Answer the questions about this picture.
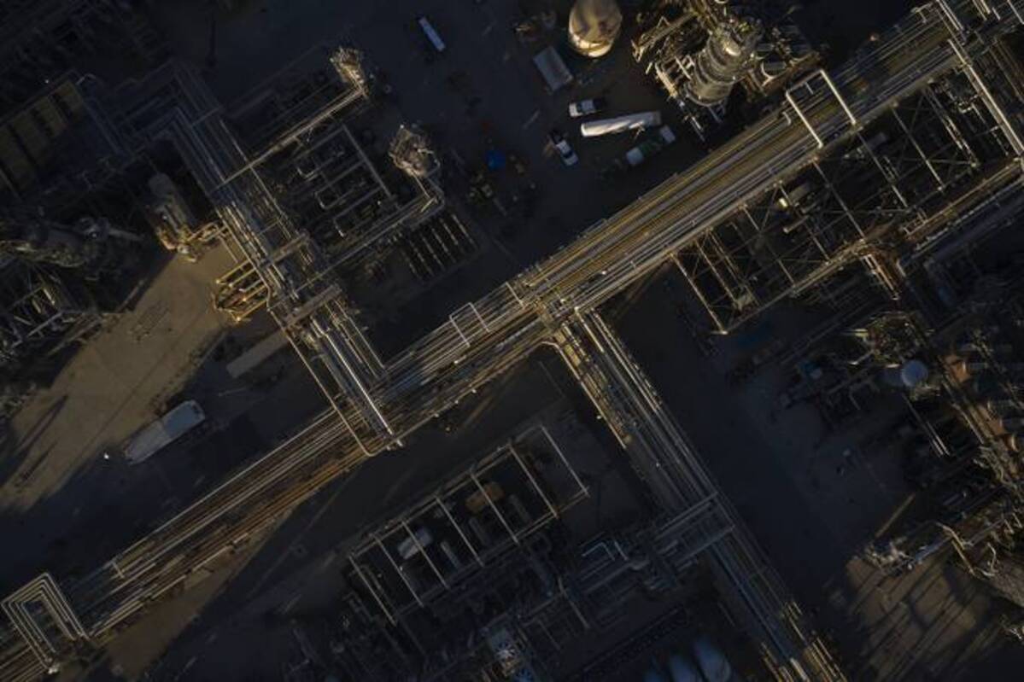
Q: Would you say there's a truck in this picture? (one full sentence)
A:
Yes, this view includes a truck.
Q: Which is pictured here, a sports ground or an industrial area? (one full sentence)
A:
It's an industrial area.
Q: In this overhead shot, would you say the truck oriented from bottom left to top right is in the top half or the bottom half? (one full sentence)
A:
Seen from above, the truck oriented from bottom left to top right lies in the top half of the view.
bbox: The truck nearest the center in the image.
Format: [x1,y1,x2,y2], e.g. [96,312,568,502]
[551,128,579,162]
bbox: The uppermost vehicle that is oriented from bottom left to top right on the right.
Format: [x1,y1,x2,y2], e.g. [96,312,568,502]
[625,118,680,165]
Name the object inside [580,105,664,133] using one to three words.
trailer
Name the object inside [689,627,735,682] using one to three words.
storage tank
